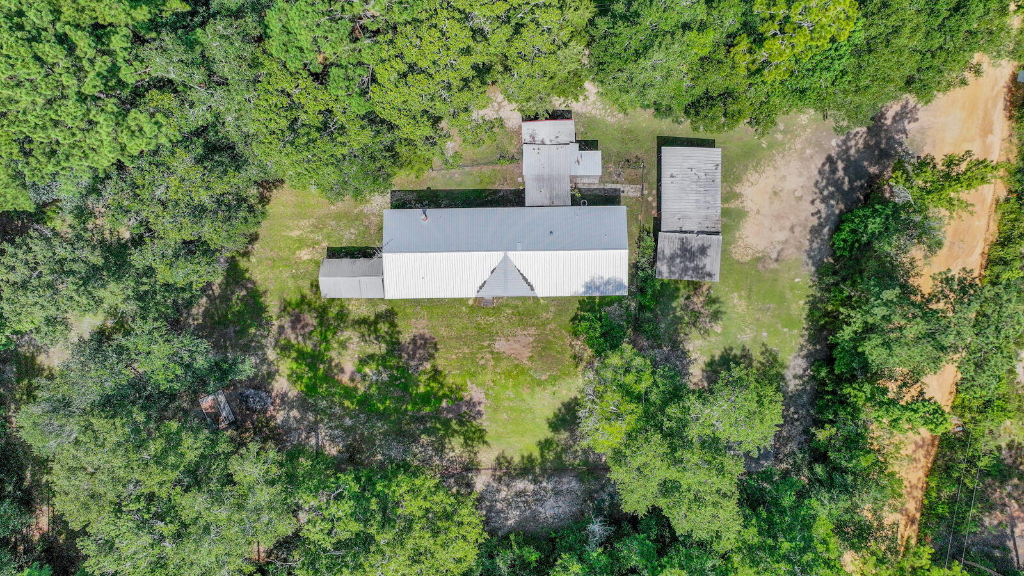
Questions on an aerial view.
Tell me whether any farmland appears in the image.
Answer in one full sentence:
No, farmland can't be seen anywhere here.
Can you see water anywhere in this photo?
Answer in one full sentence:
No, no water is visible.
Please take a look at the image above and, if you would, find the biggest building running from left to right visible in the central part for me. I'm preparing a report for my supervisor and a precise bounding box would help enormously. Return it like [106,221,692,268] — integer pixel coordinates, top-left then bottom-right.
[381,205,630,300]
